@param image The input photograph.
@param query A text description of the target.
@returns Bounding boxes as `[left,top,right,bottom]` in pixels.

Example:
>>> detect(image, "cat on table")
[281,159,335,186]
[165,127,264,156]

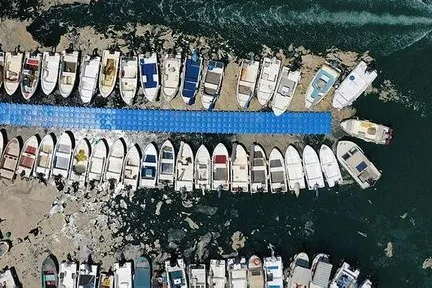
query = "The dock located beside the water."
[0,102,333,136]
